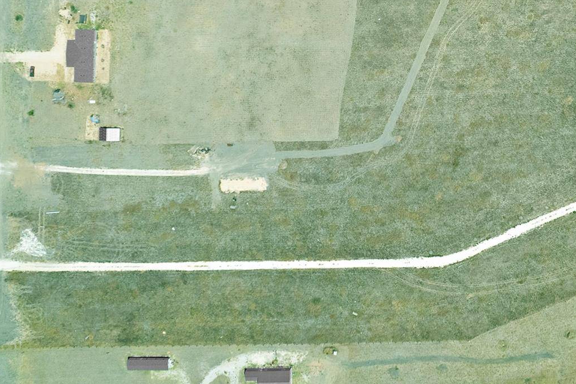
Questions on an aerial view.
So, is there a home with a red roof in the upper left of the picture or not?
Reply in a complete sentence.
No, looking in the upper left of the picture, there is no home with a red roof.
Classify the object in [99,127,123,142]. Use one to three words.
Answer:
shed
